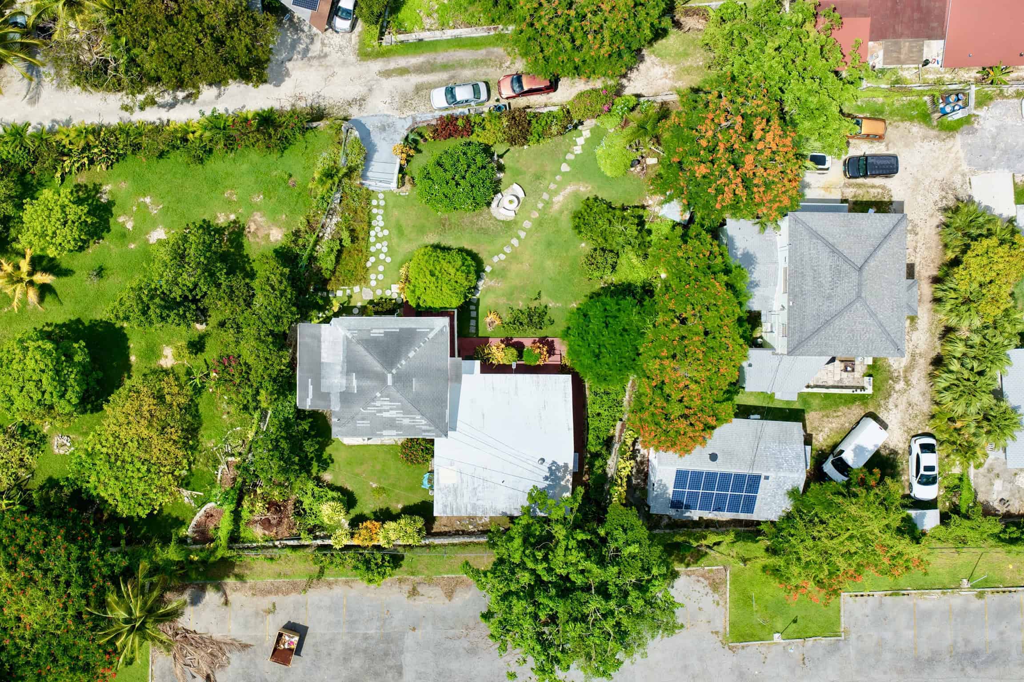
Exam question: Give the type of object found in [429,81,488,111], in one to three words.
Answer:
car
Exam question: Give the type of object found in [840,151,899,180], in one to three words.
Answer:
car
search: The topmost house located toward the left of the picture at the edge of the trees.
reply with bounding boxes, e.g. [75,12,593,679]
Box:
[283,0,334,37]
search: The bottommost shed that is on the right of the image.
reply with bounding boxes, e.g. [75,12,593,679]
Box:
[902,507,940,532]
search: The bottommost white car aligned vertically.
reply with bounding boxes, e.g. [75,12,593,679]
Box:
[907,435,939,499]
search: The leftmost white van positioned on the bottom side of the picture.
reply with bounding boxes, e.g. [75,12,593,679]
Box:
[825,419,887,480]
